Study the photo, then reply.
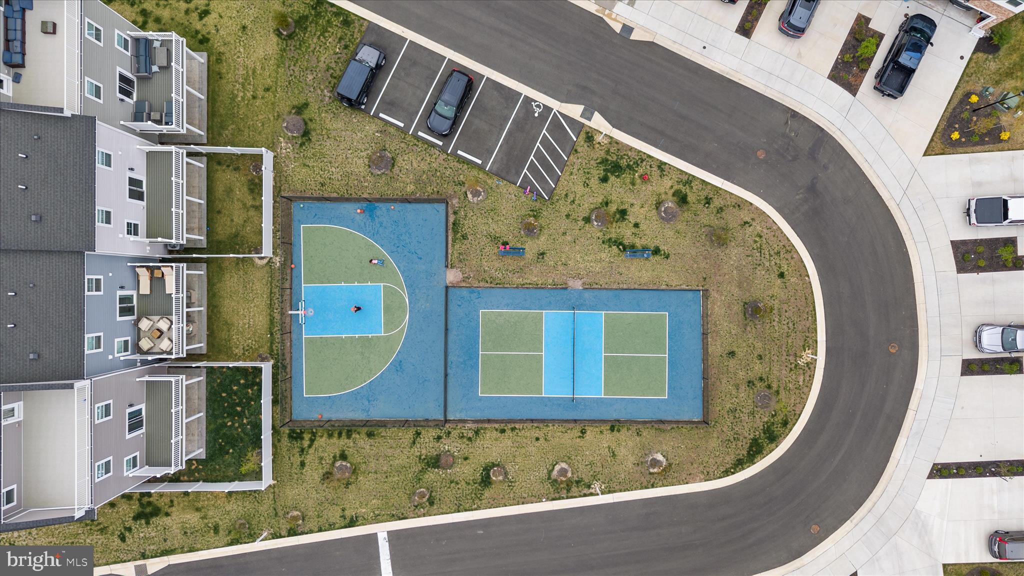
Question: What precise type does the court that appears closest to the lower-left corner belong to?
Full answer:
Looking closely, the court that appears closest to the lower-left corner is a basketball court.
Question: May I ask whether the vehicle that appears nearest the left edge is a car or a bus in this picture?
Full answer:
The vehicle that appears nearest the left edge can be classified as a car.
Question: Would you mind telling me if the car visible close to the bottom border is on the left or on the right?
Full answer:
The car visible close to the bottom border is on the right side of the image.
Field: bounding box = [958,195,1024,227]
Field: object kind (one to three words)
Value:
truck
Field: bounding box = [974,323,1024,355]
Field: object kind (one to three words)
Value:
car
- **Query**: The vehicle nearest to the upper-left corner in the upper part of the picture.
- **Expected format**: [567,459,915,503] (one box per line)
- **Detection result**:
[334,41,385,108]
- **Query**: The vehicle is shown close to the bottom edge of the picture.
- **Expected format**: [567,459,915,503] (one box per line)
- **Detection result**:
[985,527,1024,559]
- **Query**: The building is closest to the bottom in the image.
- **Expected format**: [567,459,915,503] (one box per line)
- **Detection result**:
[0,362,205,528]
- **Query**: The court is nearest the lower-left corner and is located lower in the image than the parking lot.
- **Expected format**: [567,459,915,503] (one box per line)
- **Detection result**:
[293,202,445,419]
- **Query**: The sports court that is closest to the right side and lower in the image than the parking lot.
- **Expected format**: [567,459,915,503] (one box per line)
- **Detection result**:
[445,287,702,420]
